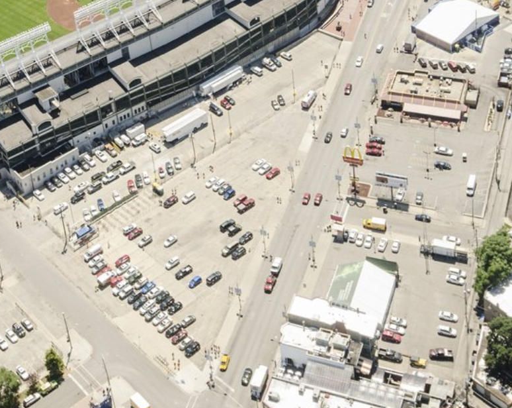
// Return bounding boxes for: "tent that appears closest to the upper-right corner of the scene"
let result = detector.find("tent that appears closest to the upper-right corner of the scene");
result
[412,0,498,55]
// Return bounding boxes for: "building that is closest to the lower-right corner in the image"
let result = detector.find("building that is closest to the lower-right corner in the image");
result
[473,372,511,408]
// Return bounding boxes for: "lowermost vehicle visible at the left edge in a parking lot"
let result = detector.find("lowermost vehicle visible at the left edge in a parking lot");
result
[23,393,41,407]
